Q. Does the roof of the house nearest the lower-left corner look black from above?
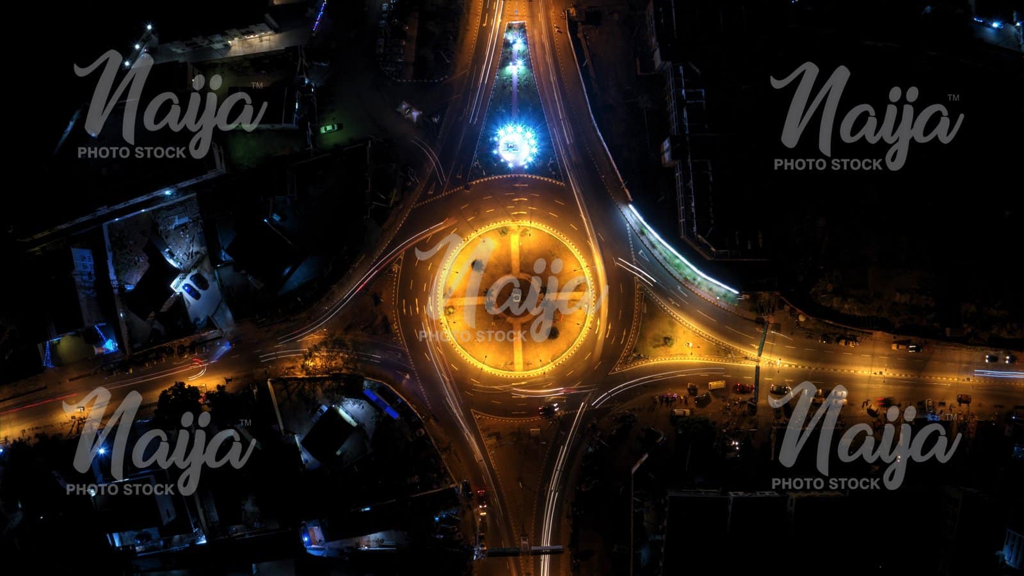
Yes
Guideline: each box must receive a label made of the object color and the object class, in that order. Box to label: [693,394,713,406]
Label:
black vehicle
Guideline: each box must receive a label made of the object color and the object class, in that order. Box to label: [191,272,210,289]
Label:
black car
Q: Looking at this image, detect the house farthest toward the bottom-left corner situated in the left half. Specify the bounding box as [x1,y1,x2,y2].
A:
[10,465,90,576]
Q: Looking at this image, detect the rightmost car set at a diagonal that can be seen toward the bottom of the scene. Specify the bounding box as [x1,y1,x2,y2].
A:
[864,405,882,419]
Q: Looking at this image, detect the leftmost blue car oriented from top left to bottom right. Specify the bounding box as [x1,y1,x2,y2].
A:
[182,283,200,299]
